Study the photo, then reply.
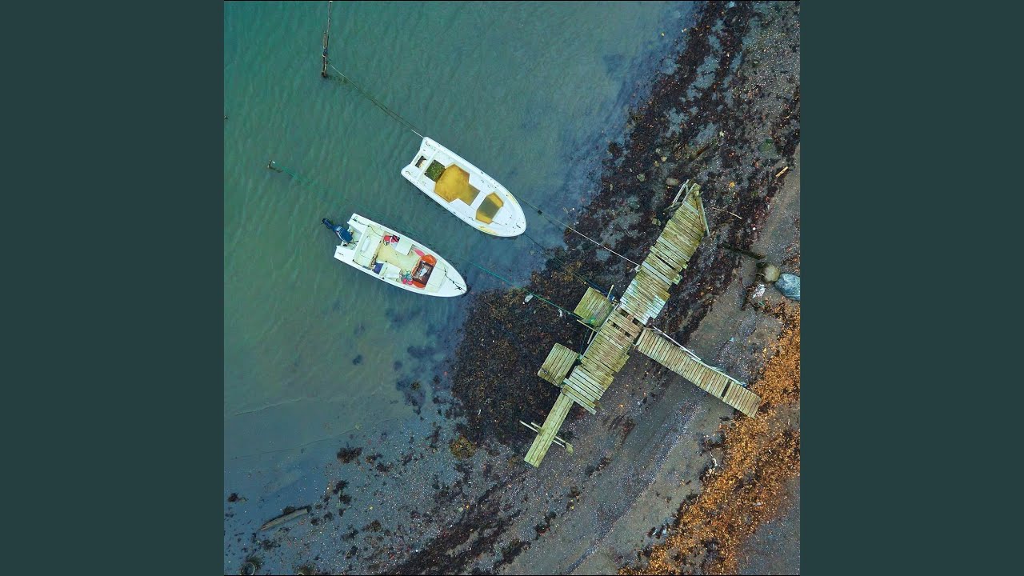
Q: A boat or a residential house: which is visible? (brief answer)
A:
boat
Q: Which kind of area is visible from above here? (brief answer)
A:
beach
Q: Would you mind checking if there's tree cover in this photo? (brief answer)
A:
No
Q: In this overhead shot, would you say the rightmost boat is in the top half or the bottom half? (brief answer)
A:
top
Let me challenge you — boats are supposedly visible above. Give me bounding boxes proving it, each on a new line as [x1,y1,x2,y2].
[404,139,528,234]
[323,214,467,296]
